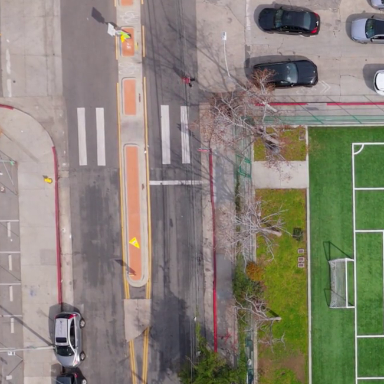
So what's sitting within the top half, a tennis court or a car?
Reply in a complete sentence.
Visible within the top half is a car.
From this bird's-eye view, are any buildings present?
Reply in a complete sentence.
No, the photo shows no building.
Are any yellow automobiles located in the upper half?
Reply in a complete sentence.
No, the scene shows no yellow automobile in the upper half.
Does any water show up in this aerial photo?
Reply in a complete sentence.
No, no water is visible.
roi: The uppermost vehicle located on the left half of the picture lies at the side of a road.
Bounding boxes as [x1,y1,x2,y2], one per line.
[52,312,87,367]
